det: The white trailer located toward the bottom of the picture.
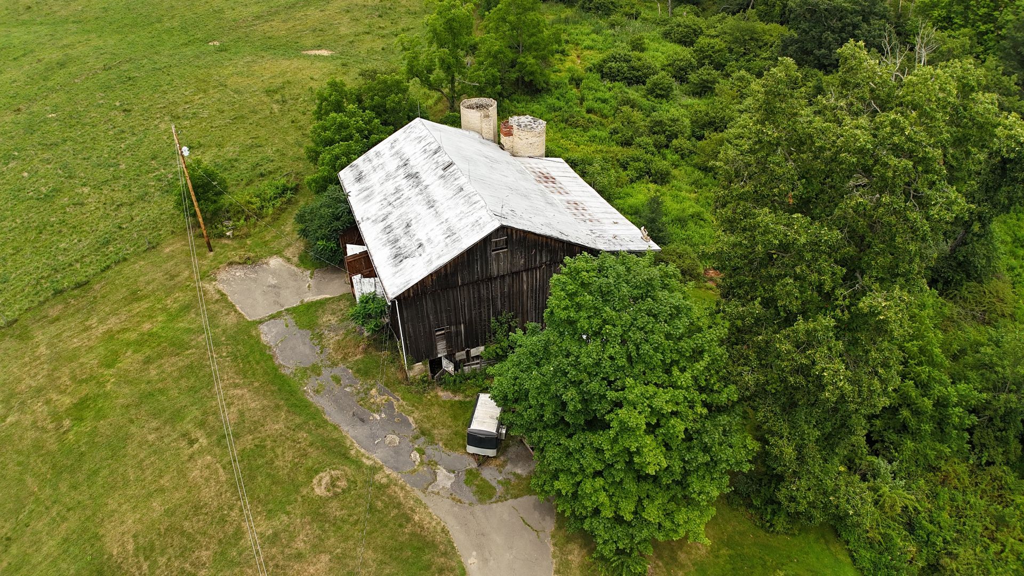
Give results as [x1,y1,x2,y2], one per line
[467,394,505,467]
